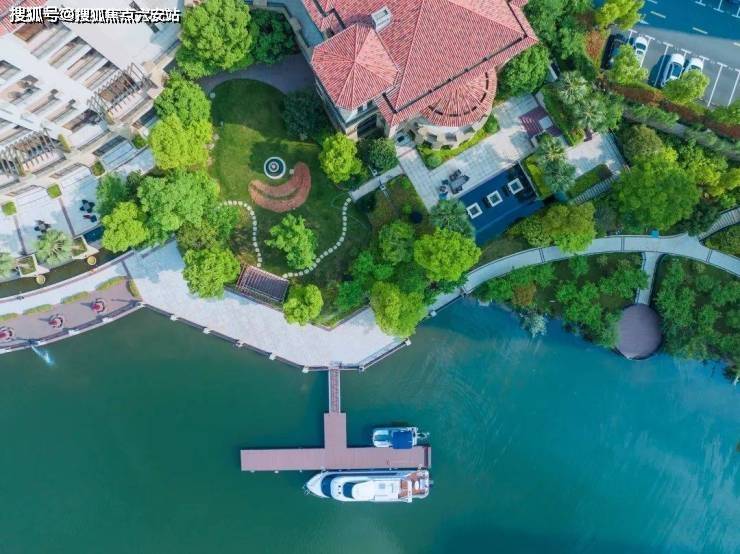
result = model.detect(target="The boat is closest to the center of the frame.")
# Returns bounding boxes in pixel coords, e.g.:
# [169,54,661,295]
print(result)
[373,428,427,449]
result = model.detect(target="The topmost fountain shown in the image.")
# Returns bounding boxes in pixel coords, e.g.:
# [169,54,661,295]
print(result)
[263,156,286,178]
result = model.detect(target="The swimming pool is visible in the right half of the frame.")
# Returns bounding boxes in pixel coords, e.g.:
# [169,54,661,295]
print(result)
[458,159,549,243]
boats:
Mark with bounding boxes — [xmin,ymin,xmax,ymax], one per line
[373,428,427,449]
[303,464,432,503]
